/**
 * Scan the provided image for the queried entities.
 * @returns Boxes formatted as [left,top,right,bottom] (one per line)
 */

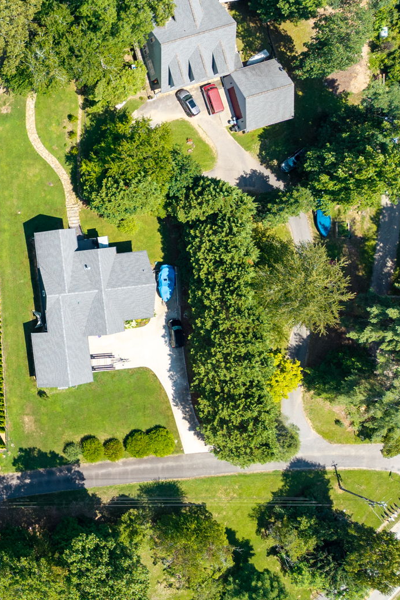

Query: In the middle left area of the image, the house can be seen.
[29,229,159,387]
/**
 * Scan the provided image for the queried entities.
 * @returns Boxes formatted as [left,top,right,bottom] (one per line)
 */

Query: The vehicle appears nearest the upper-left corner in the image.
[174,86,202,120]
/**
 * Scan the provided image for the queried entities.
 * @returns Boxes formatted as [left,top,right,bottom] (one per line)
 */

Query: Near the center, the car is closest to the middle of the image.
[164,316,184,349]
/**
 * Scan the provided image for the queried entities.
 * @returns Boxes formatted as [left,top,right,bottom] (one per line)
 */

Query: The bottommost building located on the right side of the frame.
[222,59,294,133]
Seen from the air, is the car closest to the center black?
Yes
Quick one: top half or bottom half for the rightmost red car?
top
